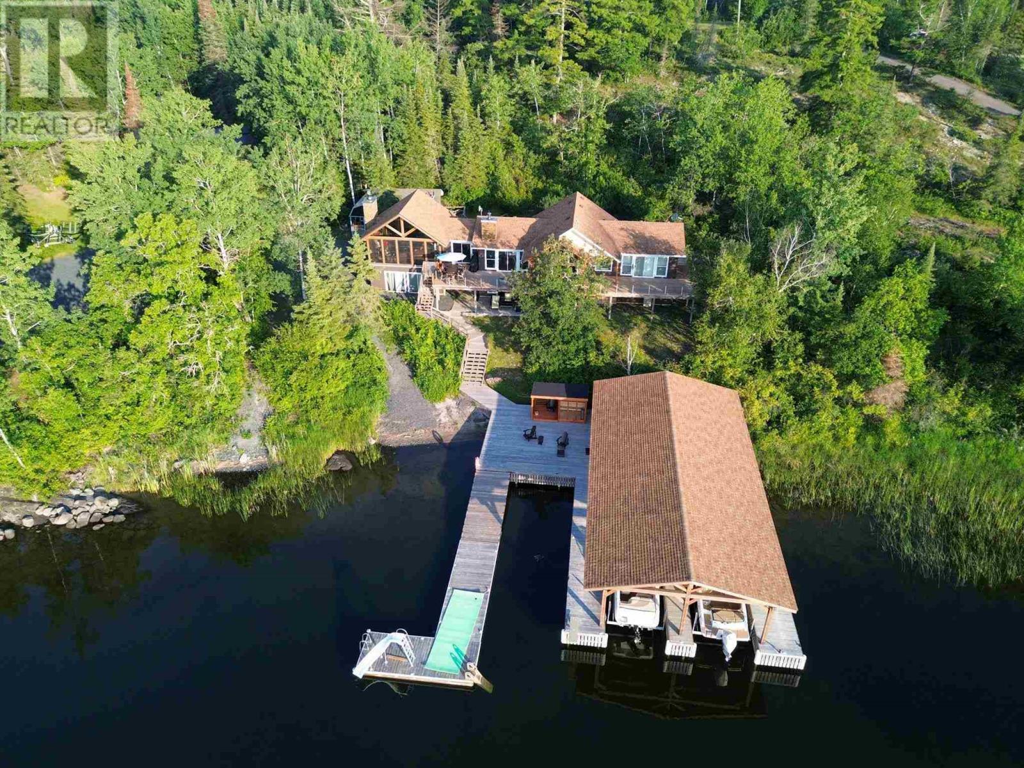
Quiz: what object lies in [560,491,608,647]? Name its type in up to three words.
pier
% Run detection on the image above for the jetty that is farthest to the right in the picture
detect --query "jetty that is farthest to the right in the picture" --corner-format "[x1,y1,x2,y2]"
[745,601,810,671]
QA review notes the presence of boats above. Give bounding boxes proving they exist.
[694,588,749,664]
[612,588,662,654]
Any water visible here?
Yes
